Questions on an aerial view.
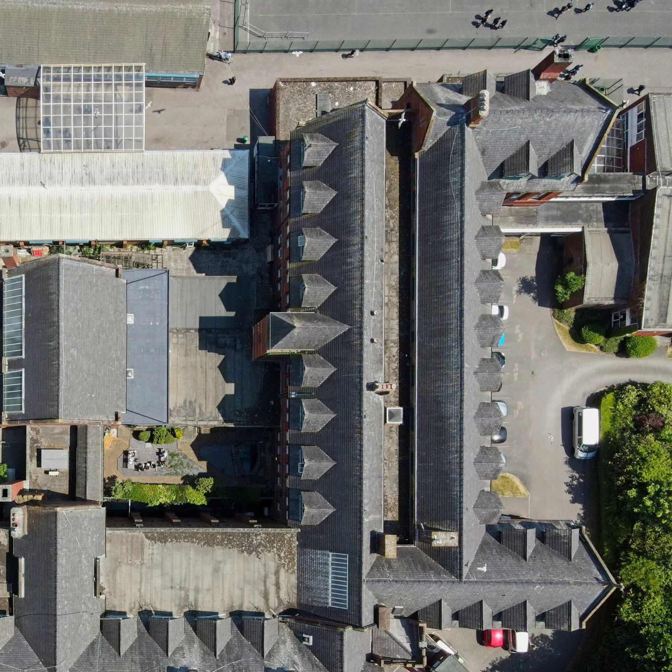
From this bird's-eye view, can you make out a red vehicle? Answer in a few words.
Yes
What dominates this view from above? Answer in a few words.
buildings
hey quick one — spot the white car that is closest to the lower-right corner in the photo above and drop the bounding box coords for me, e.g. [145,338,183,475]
[504,629,527,652]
